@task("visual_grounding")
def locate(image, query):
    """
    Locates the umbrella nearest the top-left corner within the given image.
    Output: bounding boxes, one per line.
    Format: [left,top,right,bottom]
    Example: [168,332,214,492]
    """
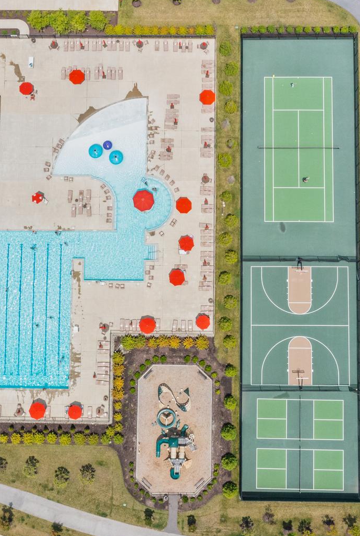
[20,82,34,96]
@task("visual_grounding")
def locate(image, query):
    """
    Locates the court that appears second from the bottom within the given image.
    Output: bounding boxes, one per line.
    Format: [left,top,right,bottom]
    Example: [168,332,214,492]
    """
[241,391,359,445]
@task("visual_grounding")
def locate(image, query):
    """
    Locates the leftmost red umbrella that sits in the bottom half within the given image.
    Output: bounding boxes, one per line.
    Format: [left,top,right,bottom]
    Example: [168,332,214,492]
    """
[29,401,46,419]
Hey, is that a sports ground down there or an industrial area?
sports ground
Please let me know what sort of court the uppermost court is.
tennis court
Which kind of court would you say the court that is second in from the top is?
basketball court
